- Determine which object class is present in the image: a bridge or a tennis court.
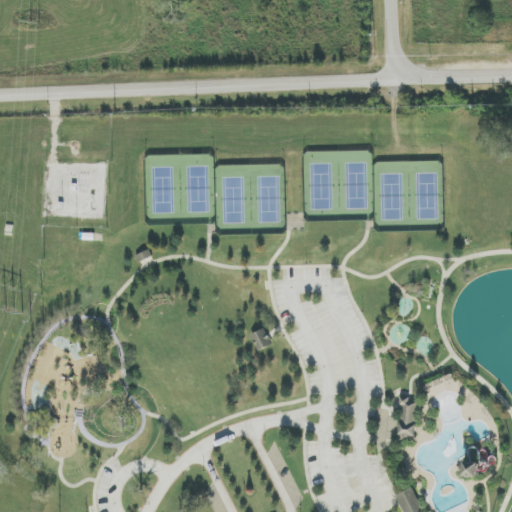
tennis court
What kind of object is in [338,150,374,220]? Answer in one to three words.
tennis court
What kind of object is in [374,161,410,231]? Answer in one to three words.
tennis court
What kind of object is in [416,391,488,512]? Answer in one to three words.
swimming pool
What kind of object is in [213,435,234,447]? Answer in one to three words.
vehicle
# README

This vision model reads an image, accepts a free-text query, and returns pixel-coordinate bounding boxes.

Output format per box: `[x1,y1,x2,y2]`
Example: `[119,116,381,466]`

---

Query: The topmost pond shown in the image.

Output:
[454,268,512,391]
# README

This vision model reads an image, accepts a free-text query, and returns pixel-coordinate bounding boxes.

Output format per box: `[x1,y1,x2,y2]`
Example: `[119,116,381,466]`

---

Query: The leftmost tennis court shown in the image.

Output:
[145,154,182,224]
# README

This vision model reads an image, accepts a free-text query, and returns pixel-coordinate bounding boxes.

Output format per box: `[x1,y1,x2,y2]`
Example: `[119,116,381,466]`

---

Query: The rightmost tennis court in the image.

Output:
[408,160,444,230]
